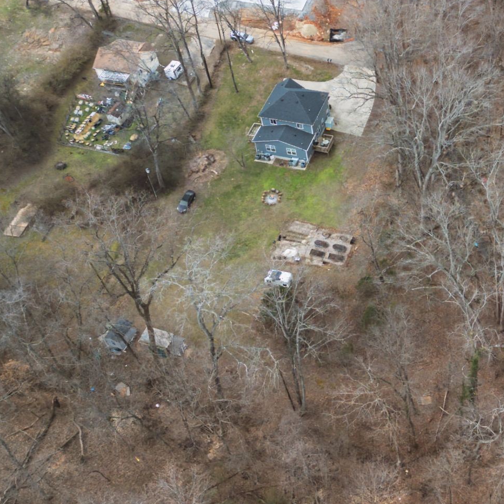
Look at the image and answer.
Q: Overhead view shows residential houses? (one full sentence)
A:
Yes, there's a residential house down there.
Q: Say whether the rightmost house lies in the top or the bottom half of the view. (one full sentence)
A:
The rightmost house sits in the top half of the picture.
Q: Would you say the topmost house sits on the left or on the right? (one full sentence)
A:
The topmost house appears in the left half of the scene.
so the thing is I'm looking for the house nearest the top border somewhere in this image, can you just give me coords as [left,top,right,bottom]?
[91,28,163,94]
